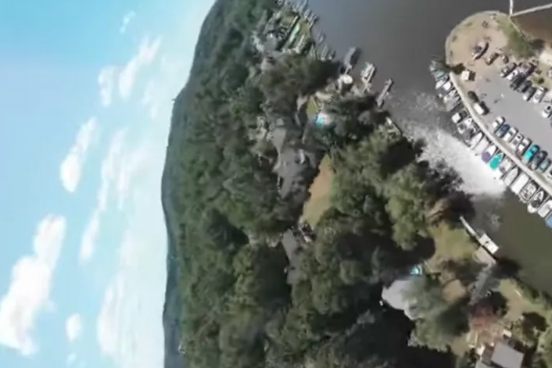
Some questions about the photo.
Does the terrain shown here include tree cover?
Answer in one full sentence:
Yes, tree cover can be seen from above here.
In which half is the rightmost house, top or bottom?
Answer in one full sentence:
The bottom half of the photo is where the rightmost house is.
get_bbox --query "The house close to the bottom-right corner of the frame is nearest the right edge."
[491,333,528,368]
